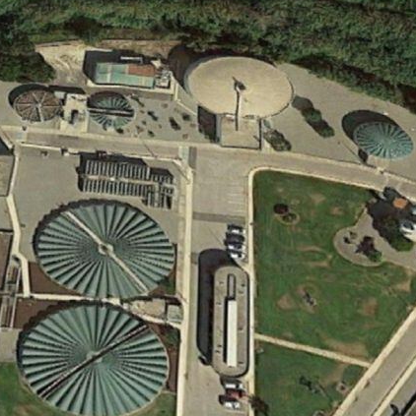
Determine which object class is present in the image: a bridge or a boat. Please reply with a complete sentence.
Of the two, only a bridge appears.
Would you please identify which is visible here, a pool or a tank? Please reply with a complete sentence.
This aerial view contains a tank.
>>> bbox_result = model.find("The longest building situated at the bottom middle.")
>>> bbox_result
[210,264,249,385]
